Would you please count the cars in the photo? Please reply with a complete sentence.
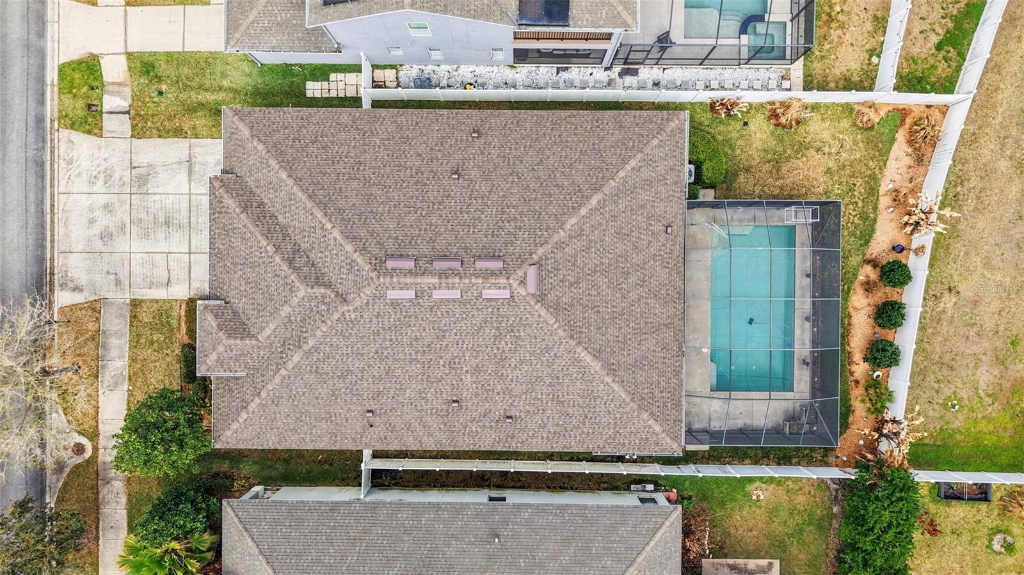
There are no cars in this view.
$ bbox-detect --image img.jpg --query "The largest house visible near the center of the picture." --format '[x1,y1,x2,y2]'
[195,105,690,457]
